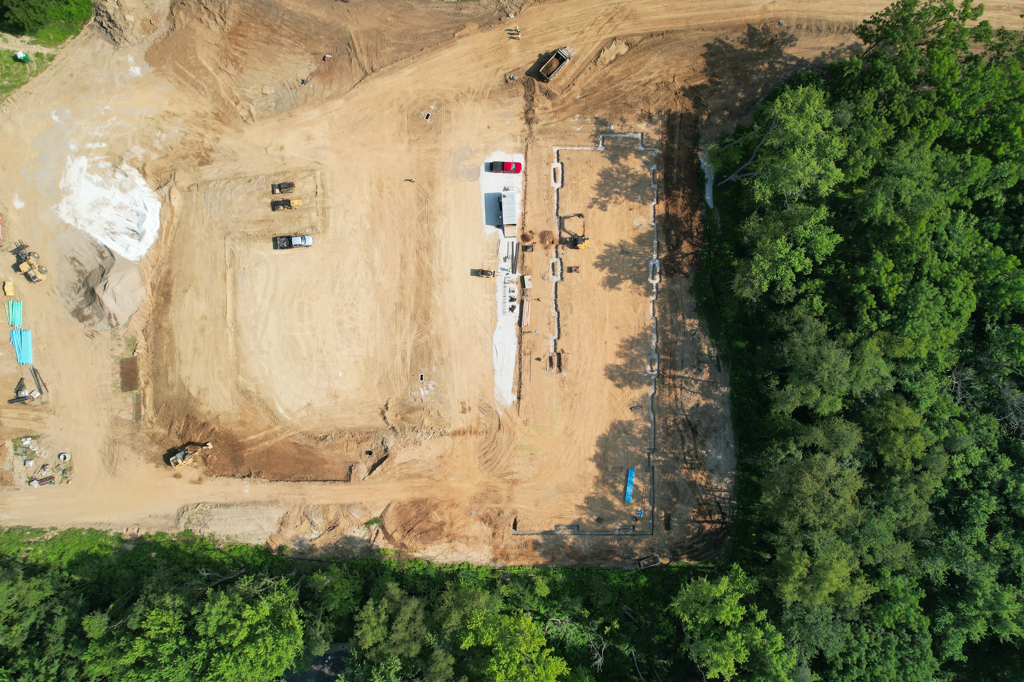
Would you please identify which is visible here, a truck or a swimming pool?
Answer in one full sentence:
This aerial view contains a truck.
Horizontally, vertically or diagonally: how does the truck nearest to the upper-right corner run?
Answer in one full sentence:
From this overhead view, the truck nearest to the upper-right corner appears to run diagonally.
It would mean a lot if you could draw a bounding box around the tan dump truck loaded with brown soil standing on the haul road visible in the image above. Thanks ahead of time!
[539,39,577,83]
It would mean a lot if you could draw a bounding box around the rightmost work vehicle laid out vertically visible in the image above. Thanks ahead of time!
[573,211,591,252]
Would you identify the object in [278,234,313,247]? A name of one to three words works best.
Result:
vehicle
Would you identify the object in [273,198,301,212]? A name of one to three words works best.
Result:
work vehicle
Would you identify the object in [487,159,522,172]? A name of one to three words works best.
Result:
vehicle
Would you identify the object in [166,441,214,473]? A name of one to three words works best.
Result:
work vehicle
